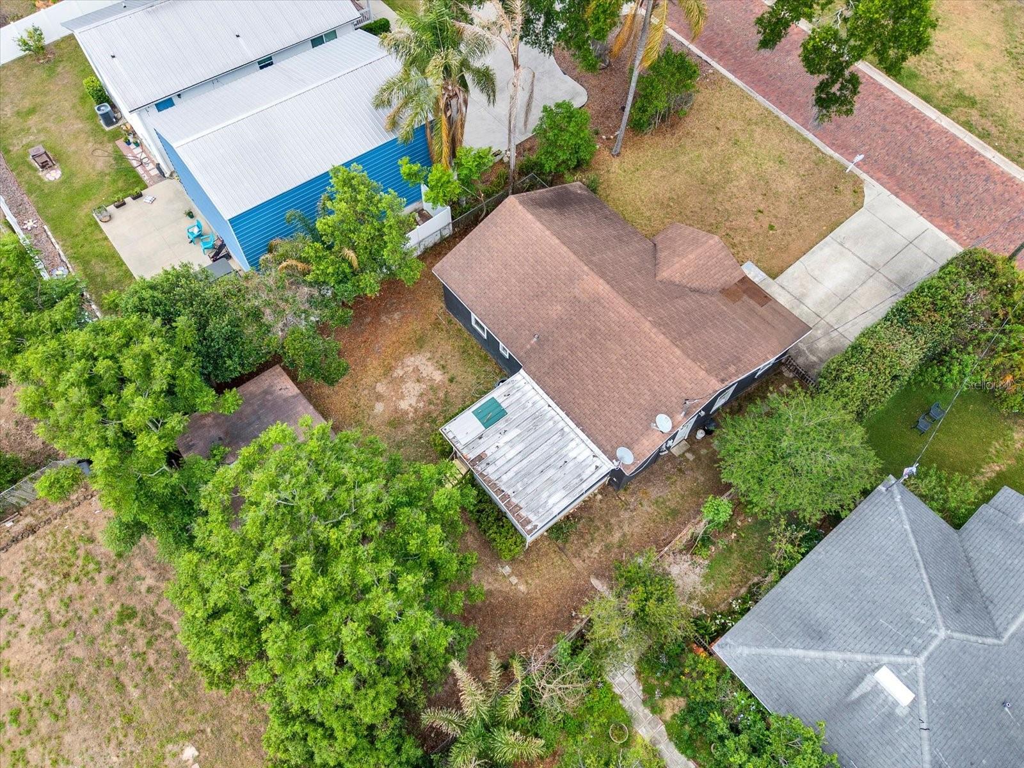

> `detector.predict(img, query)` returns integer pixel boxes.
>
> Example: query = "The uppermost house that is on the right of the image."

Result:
[431,177,810,489]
